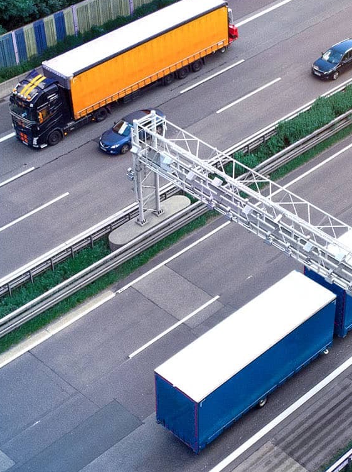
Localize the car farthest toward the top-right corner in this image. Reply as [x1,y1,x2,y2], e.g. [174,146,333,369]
[307,37,352,80]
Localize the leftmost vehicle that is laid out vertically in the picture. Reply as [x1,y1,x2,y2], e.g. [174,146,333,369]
[225,9,238,50]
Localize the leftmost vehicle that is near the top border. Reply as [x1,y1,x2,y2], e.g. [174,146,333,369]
[2,0,227,150]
